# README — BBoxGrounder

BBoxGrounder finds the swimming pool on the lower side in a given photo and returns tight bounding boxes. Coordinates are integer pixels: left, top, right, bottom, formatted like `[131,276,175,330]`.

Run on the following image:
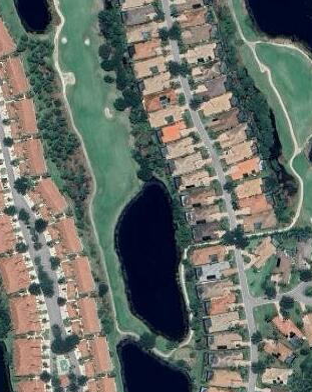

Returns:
[57,355,70,374]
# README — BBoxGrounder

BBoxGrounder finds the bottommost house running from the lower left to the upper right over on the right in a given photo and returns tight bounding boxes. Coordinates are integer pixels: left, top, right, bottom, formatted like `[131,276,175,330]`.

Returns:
[245,236,281,272]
